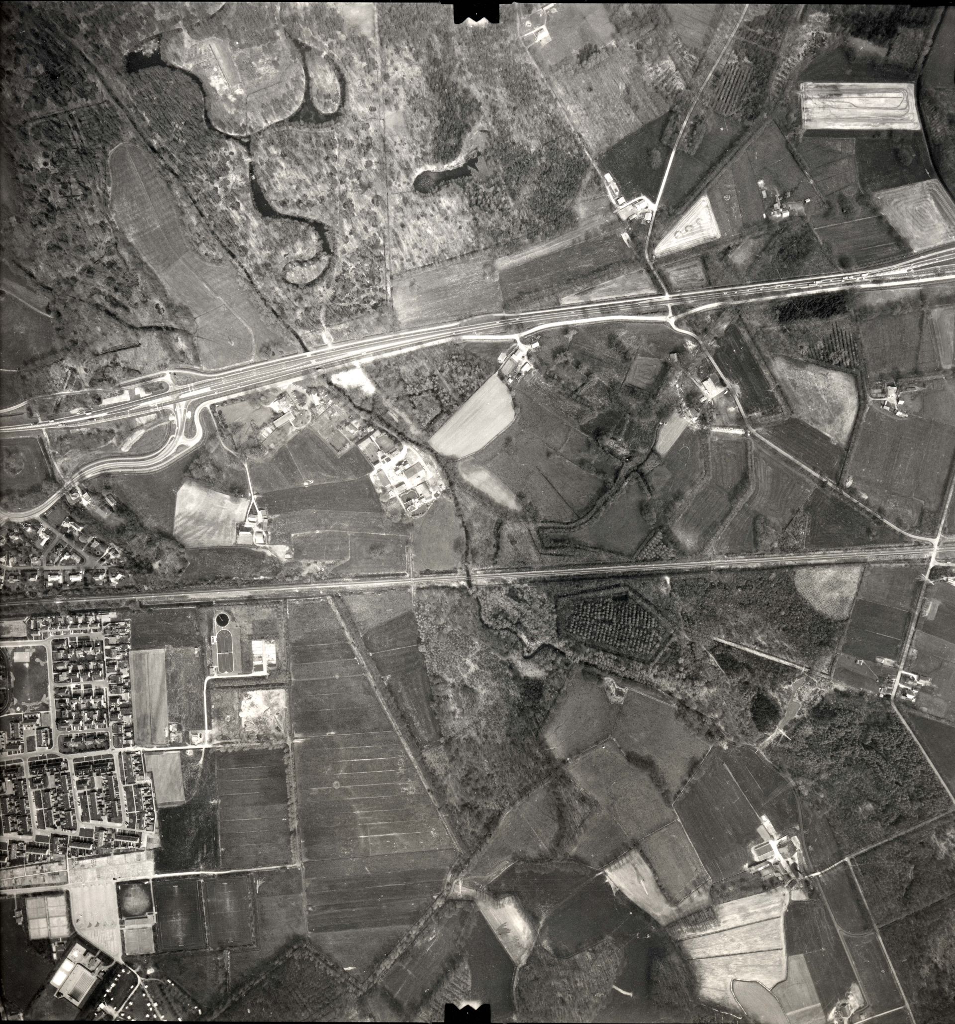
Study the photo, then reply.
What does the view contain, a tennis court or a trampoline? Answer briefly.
tennis court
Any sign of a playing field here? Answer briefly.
Yes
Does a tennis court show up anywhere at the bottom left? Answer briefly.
Yes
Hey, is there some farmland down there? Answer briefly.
Yes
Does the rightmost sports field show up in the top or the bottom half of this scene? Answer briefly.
bottom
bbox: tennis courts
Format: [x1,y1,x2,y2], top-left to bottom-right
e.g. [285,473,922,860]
[125,914,153,955]
[25,895,67,939]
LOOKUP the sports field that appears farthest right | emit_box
[202,875,256,950]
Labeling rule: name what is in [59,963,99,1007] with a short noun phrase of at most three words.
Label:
building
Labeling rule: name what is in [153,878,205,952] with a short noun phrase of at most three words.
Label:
sports field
